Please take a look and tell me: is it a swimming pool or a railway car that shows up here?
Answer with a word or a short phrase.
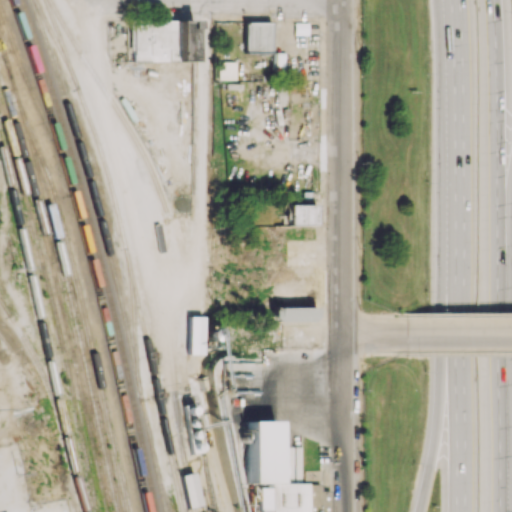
railway car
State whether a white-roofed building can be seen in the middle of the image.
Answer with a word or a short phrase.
Yes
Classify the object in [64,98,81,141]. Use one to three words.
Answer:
rail car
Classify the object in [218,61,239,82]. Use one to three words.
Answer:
house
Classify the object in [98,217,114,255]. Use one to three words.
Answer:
rail car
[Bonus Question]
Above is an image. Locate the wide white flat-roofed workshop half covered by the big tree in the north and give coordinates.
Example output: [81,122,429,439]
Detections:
[135,20,181,62]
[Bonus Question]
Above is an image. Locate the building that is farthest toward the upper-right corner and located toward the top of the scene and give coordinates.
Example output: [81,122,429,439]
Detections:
[244,22,276,54]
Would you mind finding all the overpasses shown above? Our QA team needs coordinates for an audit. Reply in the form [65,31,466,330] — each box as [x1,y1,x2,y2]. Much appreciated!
[402,314,512,352]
